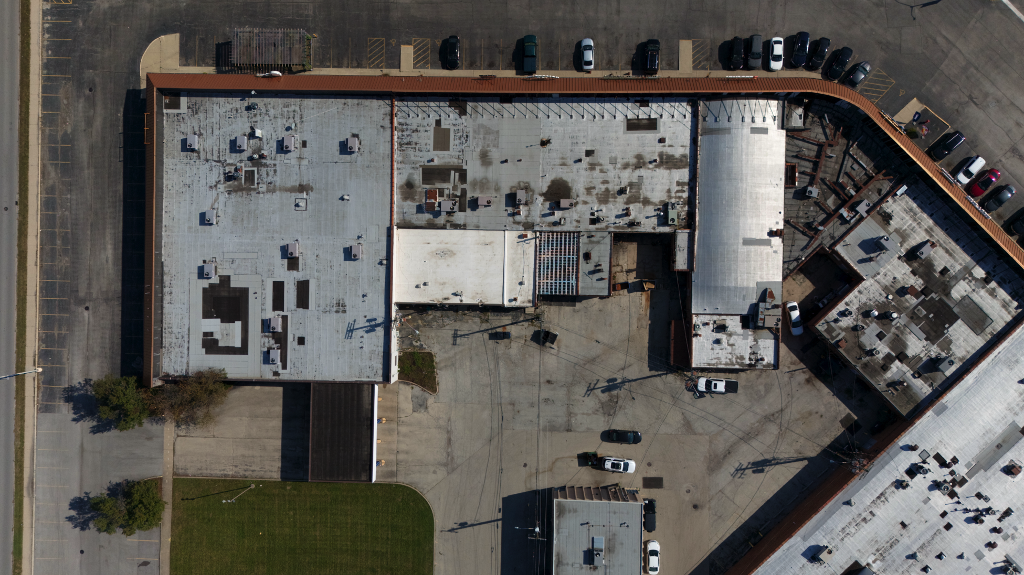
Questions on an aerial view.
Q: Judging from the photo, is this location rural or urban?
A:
urban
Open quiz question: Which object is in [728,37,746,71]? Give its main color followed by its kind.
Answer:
black car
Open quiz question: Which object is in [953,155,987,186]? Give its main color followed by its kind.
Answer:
white car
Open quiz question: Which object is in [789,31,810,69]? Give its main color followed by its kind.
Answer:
black car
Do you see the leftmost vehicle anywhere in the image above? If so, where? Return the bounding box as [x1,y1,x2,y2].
[444,35,460,71]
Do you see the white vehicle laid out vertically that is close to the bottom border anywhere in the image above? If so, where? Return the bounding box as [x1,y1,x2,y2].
[644,538,661,574]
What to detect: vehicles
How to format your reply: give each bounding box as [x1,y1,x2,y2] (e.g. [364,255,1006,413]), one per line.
[806,37,830,72]
[606,428,641,444]
[826,46,852,82]
[601,455,636,474]
[696,377,738,394]
[644,538,661,574]
[444,35,460,71]
[783,300,802,335]
[953,155,987,186]
[642,497,658,533]
[521,35,538,76]
[645,40,661,75]
[579,38,595,73]
[1007,213,1024,241]
[789,31,810,69]
[767,37,784,73]
[967,169,1001,199]
[930,131,965,163]
[982,184,1016,215]
[728,37,746,71]
[843,60,871,91]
